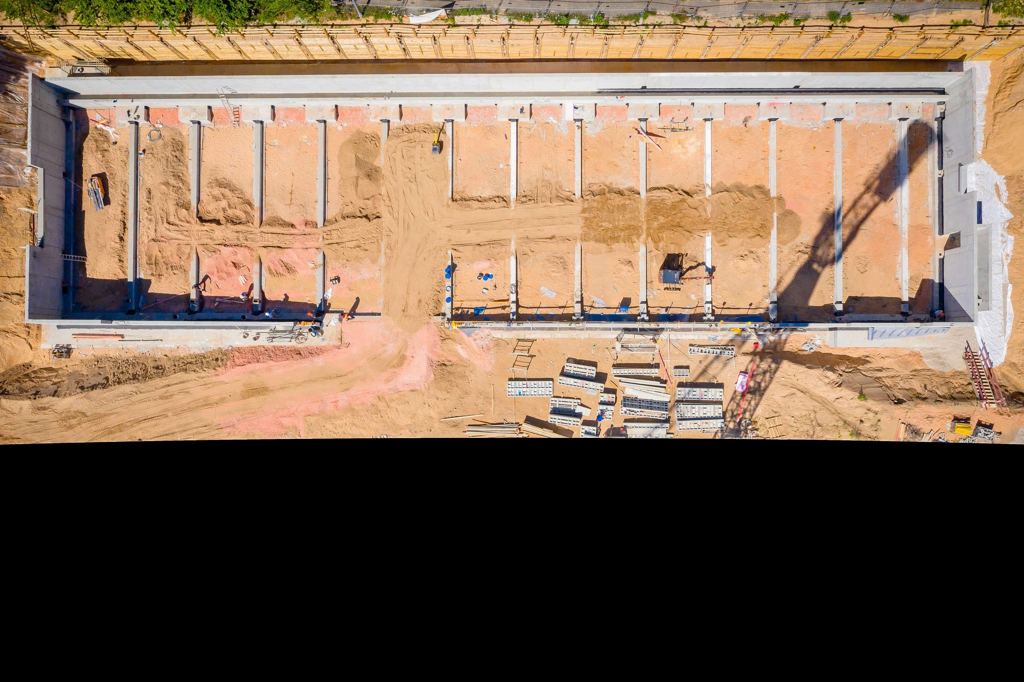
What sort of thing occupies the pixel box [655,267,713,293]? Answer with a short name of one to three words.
work vehicle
